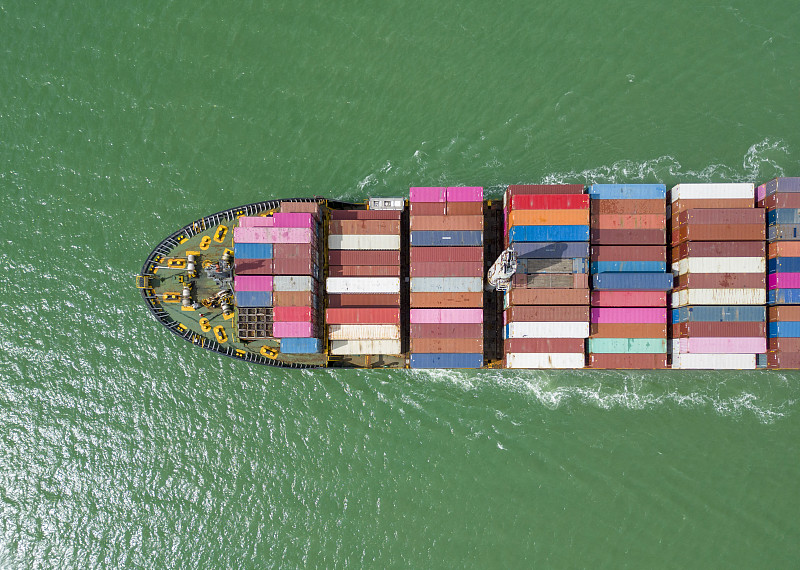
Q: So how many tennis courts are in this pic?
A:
none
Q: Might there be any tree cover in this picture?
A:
No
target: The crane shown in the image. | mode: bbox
[483,248,519,298]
